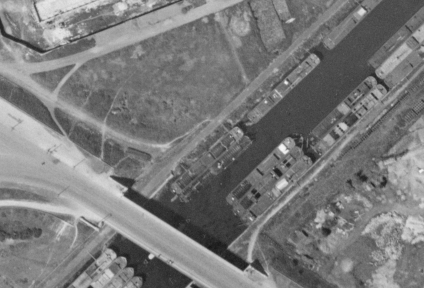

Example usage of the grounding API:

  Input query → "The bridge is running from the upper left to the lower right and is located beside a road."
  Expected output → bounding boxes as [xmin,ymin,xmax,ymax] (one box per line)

[95,186,250,288]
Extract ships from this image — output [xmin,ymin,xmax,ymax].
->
[315,82,390,154]
[374,24,424,78]
[320,0,379,50]
[243,53,320,124]
[106,266,138,288]
[241,154,314,225]
[124,274,146,288]
[85,255,130,288]
[169,127,243,195]
[231,144,305,217]
[367,5,424,67]
[64,246,119,288]
[224,135,297,205]
[308,74,378,140]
